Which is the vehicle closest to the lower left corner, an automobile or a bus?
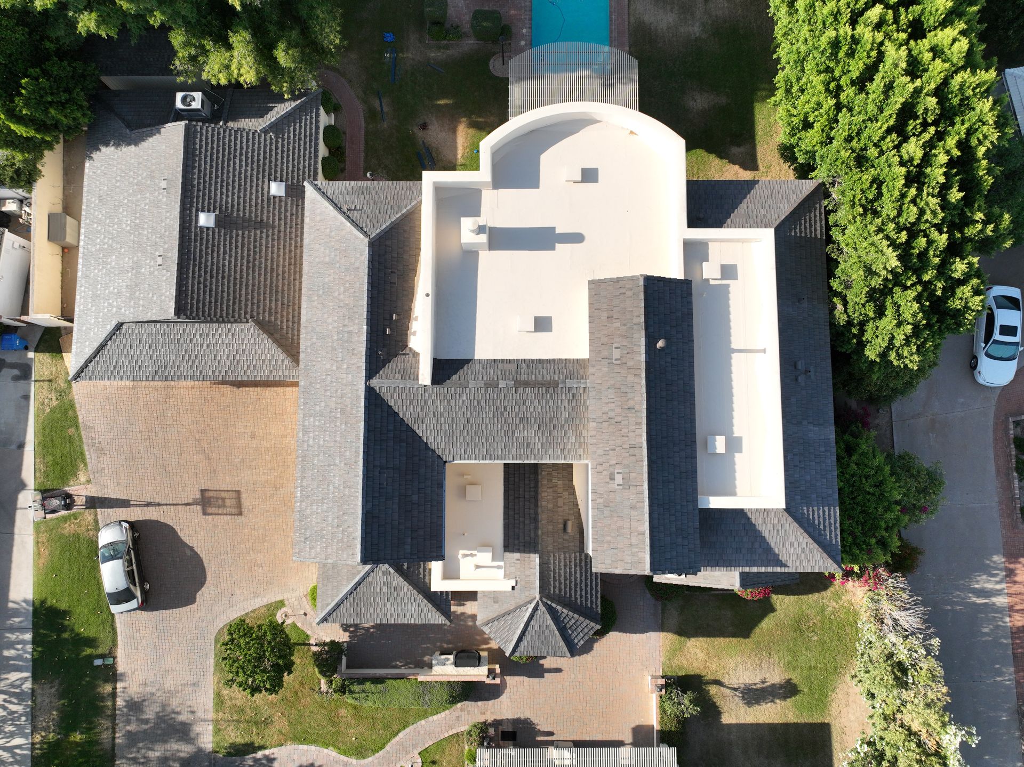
automobile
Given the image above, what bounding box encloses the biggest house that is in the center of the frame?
[292,103,844,658]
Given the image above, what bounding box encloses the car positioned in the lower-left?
[95,519,153,616]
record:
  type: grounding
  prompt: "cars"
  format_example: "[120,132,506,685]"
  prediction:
[95,519,153,616]
[969,288,1023,385]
